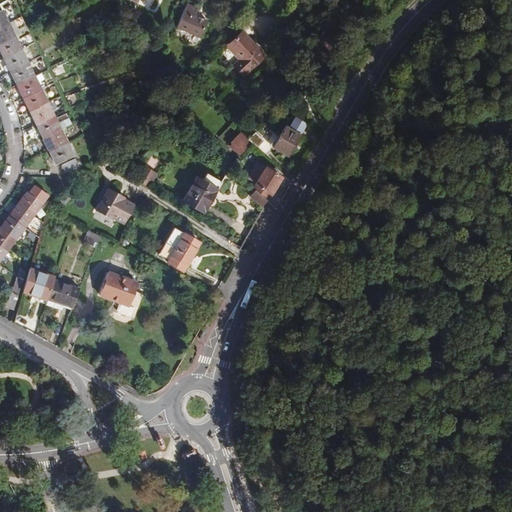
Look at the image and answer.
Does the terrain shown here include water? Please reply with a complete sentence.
No, there is no water in the image.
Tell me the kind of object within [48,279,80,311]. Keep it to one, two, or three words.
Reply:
house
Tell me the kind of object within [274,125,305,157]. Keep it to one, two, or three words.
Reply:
house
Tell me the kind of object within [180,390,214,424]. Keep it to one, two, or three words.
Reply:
roundabout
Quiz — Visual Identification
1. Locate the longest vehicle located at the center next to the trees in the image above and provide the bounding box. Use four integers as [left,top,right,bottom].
[241,280,257,308]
